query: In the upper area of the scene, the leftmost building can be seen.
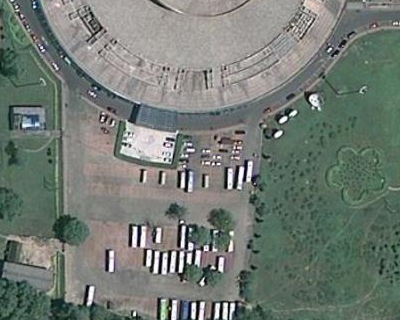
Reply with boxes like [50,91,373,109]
[10,108,46,130]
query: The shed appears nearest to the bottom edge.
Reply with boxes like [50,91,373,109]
[0,262,54,288]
